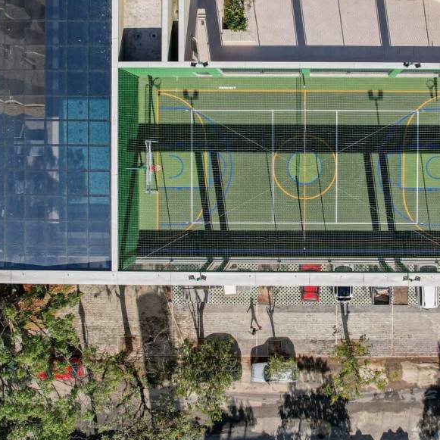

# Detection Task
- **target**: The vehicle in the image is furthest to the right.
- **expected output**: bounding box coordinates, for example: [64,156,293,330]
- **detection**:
[413,286,436,303]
